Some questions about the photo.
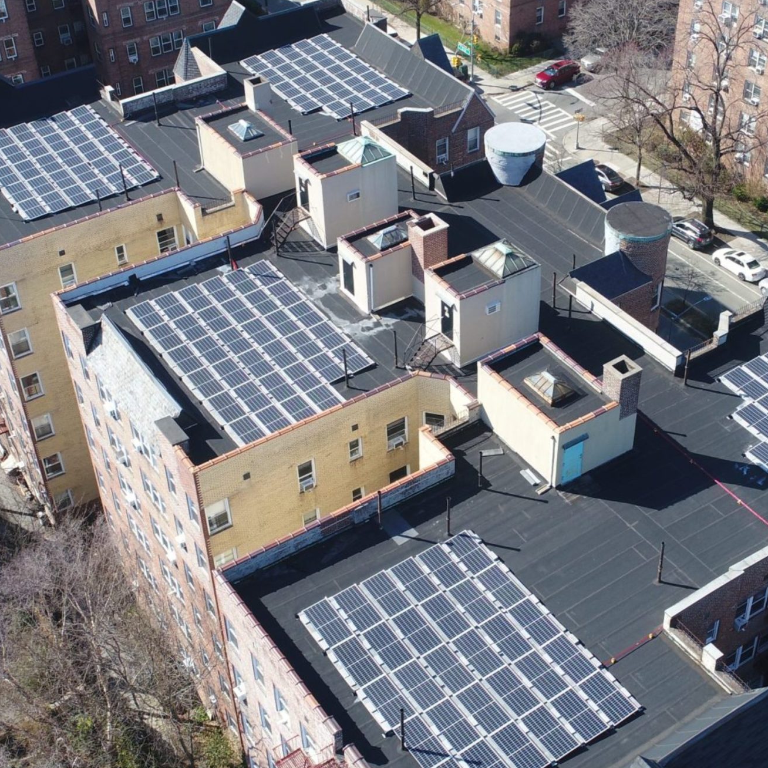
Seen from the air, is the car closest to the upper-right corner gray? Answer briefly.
Yes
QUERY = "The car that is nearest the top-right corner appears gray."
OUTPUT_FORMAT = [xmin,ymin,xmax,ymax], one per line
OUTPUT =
[582,49,629,73]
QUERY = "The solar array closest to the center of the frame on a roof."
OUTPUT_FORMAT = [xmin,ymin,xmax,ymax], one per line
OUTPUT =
[125,260,373,450]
